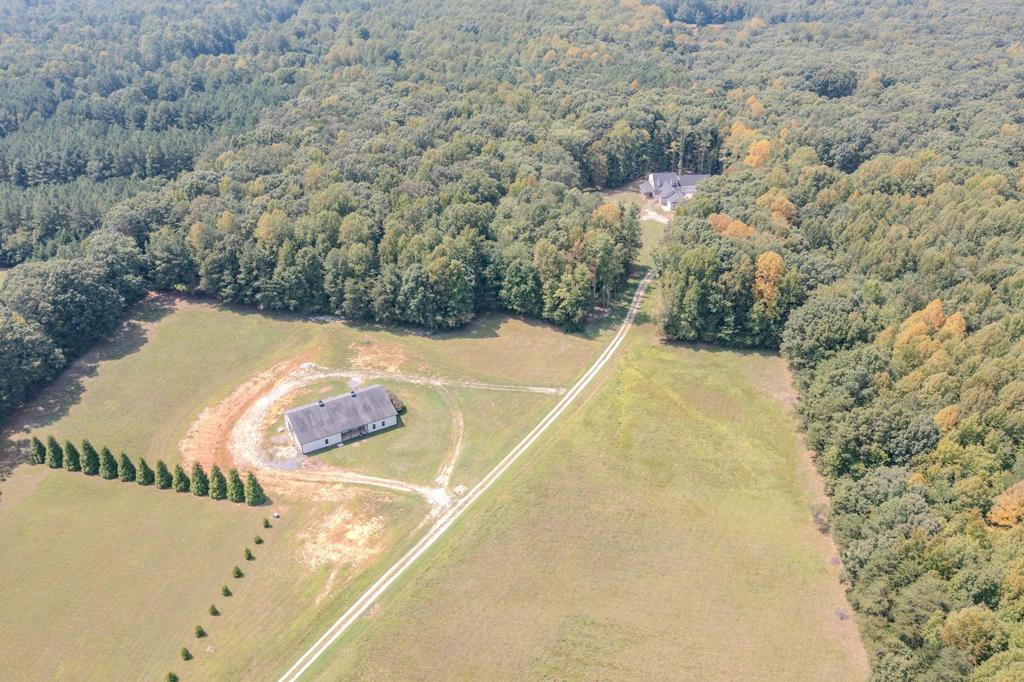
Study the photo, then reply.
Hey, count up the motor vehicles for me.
0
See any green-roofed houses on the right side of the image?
No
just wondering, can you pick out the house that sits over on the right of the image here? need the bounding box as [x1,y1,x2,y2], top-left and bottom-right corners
[640,178,708,211]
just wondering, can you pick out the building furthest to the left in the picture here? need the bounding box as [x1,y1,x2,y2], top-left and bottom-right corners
[286,387,399,454]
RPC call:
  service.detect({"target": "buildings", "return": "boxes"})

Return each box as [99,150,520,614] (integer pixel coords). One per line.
[286,387,399,454]
[640,178,708,211]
